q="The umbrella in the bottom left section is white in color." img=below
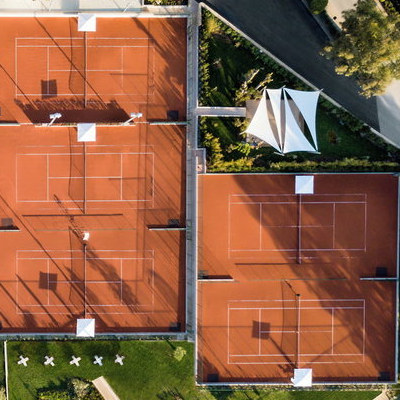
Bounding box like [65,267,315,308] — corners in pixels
[77,318,95,336]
